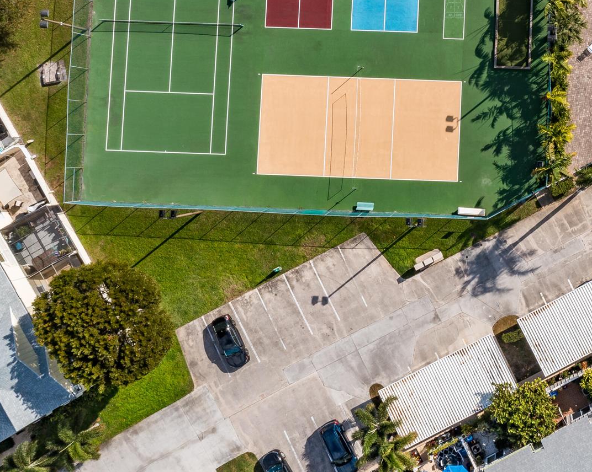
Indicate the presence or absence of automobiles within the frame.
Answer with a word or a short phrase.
Yes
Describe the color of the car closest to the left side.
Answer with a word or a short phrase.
black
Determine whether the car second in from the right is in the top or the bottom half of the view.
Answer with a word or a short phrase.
bottom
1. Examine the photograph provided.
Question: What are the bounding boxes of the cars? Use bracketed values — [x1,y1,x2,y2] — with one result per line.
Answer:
[209,320,246,369]
[256,447,287,472]
[316,420,355,472]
